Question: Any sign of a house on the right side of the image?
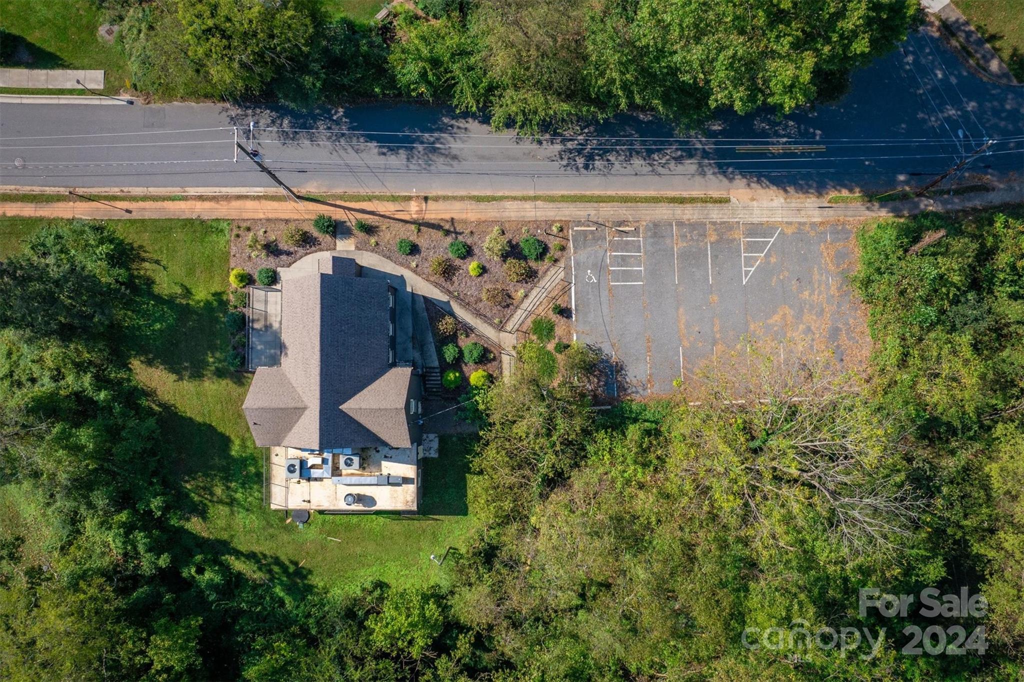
No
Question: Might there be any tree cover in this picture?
Yes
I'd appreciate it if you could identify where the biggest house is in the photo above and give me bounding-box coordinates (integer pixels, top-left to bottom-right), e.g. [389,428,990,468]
[240,254,423,510]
